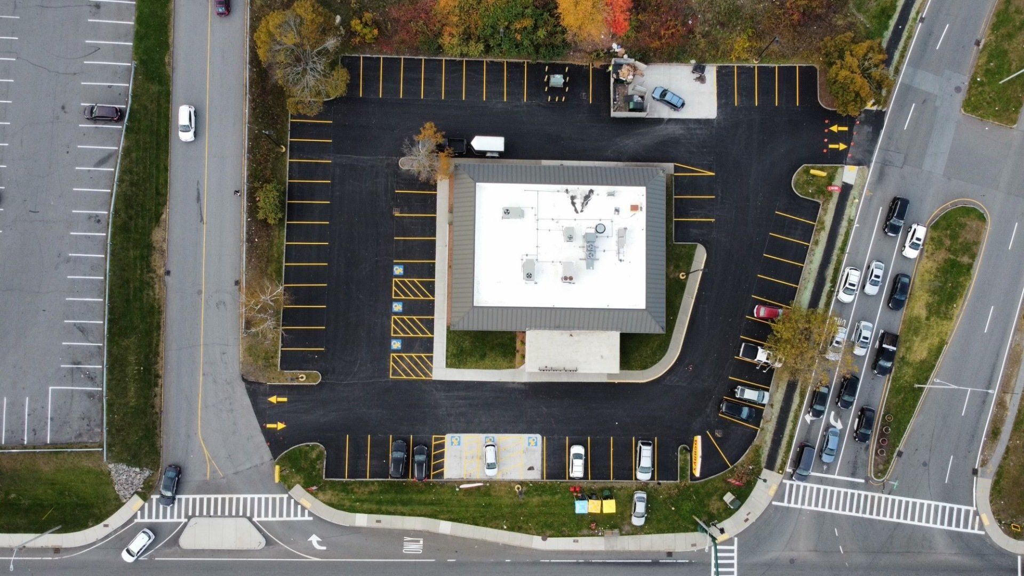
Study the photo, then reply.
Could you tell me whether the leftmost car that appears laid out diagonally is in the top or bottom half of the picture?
bottom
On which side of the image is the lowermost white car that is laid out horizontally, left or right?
right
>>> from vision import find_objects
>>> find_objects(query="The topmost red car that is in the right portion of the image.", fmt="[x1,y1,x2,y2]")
[753,304,791,322]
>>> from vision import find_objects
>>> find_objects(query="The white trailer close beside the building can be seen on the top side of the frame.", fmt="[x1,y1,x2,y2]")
[467,136,505,157]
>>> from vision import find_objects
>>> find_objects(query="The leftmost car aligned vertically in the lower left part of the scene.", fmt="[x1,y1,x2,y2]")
[159,464,182,504]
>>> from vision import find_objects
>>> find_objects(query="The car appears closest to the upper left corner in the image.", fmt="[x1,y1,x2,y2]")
[86,104,124,122]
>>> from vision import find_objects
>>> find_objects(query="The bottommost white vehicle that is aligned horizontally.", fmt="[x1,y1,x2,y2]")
[732,385,770,405]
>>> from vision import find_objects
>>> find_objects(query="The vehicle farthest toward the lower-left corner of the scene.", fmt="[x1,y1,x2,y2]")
[122,527,157,562]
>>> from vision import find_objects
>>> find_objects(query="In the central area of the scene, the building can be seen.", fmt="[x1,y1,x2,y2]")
[450,163,666,374]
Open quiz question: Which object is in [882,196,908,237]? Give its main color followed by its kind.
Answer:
black car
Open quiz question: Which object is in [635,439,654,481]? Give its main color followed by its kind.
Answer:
white vehicle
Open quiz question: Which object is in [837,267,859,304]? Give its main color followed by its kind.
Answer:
white car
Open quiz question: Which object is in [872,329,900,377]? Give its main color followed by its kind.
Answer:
black truck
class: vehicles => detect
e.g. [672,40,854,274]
[718,399,756,421]
[569,443,586,479]
[861,260,883,296]
[214,0,231,17]
[887,273,910,311]
[818,426,840,463]
[872,329,900,377]
[807,384,830,420]
[159,464,182,504]
[390,439,408,479]
[86,104,124,122]
[635,439,654,481]
[882,196,908,237]
[852,405,875,444]
[732,385,770,405]
[835,374,859,411]
[790,441,814,482]
[753,304,791,322]
[837,267,859,304]
[411,443,429,482]
[901,223,925,259]
[650,87,686,114]
[482,442,499,477]
[850,319,872,356]
[630,488,648,527]
[737,342,783,369]
[178,105,196,141]
[826,325,848,361]
[122,527,157,562]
